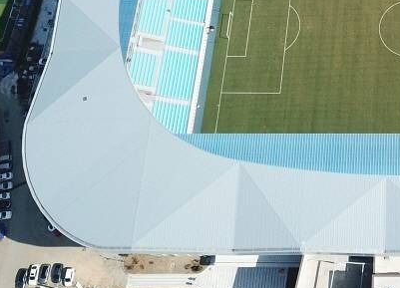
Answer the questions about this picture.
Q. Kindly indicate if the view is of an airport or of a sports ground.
sports ground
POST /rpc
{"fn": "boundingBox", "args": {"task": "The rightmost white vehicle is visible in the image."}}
[61,266,73,287]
